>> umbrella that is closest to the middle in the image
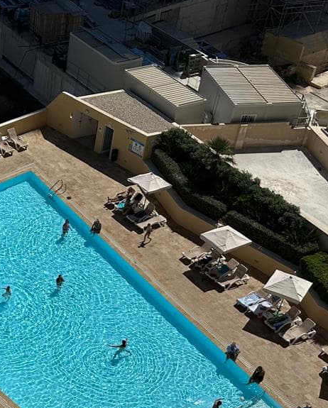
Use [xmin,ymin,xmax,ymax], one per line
[127,172,173,204]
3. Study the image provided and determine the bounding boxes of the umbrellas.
[198,227,252,271]
[127,172,173,204]
[260,272,312,314]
